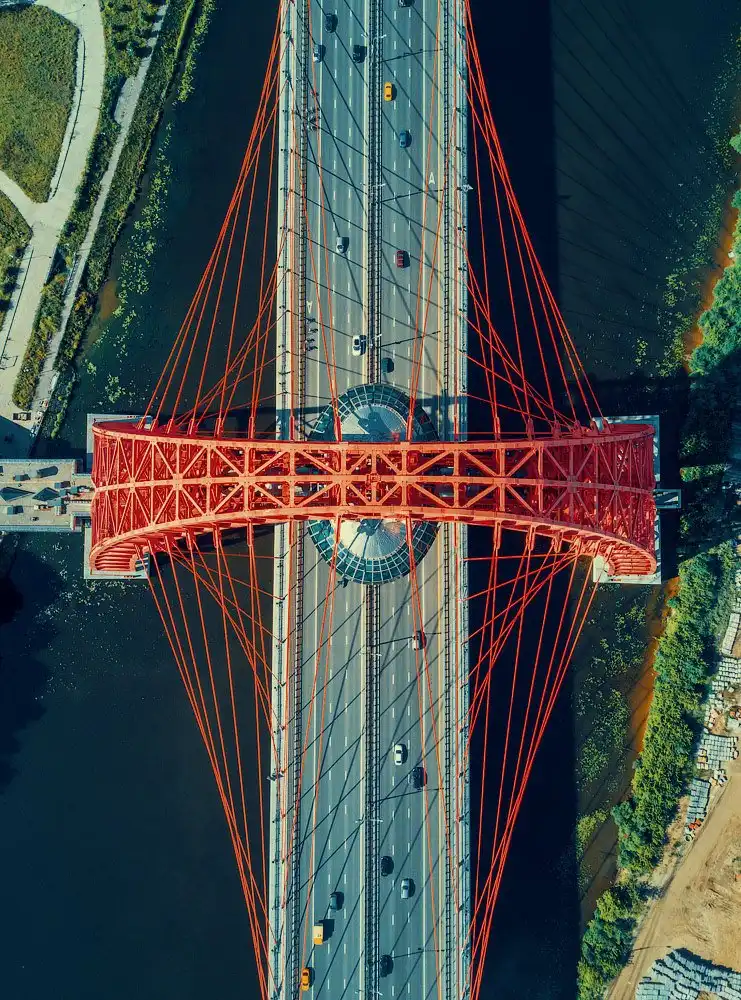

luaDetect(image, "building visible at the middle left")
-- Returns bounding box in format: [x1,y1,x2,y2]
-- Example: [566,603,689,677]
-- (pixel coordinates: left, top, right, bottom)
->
[0,456,92,541]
